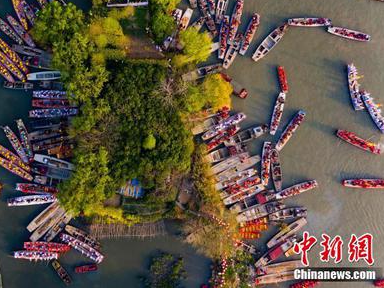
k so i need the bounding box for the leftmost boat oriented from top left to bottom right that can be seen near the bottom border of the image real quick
[51,260,72,286]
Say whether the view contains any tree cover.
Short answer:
Yes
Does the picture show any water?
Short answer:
Yes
